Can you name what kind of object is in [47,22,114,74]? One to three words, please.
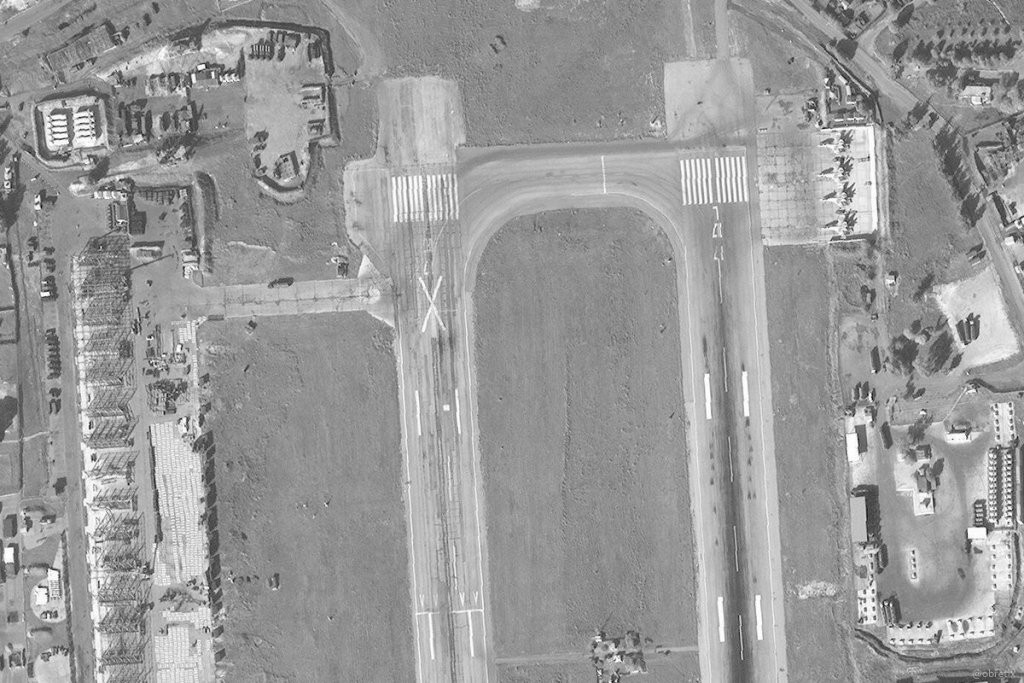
building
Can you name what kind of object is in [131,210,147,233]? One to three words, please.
building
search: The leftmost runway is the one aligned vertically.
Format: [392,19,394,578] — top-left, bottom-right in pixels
[391,166,487,683]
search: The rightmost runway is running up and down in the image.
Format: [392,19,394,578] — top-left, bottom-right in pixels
[680,145,776,683]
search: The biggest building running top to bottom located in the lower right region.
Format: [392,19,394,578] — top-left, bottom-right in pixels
[851,497,869,542]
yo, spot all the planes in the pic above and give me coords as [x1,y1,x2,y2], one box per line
[820,137,850,158]
[822,164,851,185]
[824,191,853,212]
[824,217,854,238]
